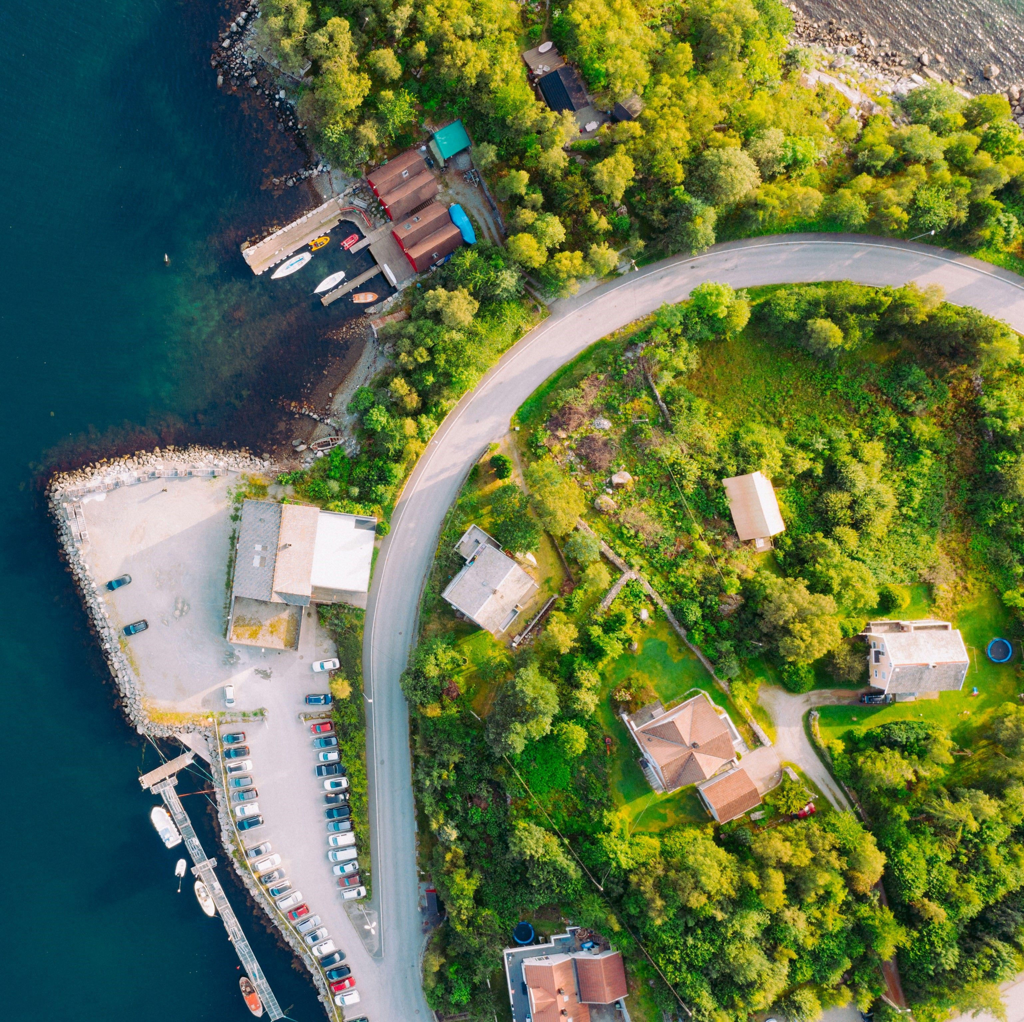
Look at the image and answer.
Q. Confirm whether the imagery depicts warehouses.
Yes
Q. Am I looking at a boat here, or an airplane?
boat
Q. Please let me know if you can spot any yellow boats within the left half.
Yes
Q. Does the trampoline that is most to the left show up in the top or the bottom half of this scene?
bottom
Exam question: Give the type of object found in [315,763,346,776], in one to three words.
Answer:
vehicle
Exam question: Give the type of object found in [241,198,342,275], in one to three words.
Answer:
pier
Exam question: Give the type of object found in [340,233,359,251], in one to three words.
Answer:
boat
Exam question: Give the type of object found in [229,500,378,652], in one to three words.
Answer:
warehouse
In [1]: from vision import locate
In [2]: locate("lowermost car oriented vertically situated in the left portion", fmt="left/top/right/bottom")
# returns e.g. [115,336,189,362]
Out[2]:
[224,683,236,708]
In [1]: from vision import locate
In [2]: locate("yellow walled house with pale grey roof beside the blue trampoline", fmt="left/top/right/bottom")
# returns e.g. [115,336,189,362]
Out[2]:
[868,620,970,702]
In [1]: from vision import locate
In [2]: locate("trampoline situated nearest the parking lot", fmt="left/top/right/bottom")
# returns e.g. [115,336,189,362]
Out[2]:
[512,922,535,944]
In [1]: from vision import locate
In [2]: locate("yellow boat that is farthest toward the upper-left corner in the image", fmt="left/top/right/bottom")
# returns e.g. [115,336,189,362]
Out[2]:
[307,236,331,253]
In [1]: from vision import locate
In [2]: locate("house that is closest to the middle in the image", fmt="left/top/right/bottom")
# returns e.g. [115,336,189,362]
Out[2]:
[441,524,553,634]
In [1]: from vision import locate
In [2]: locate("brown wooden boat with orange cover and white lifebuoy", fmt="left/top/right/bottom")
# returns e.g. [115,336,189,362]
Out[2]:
[243,977,261,1017]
